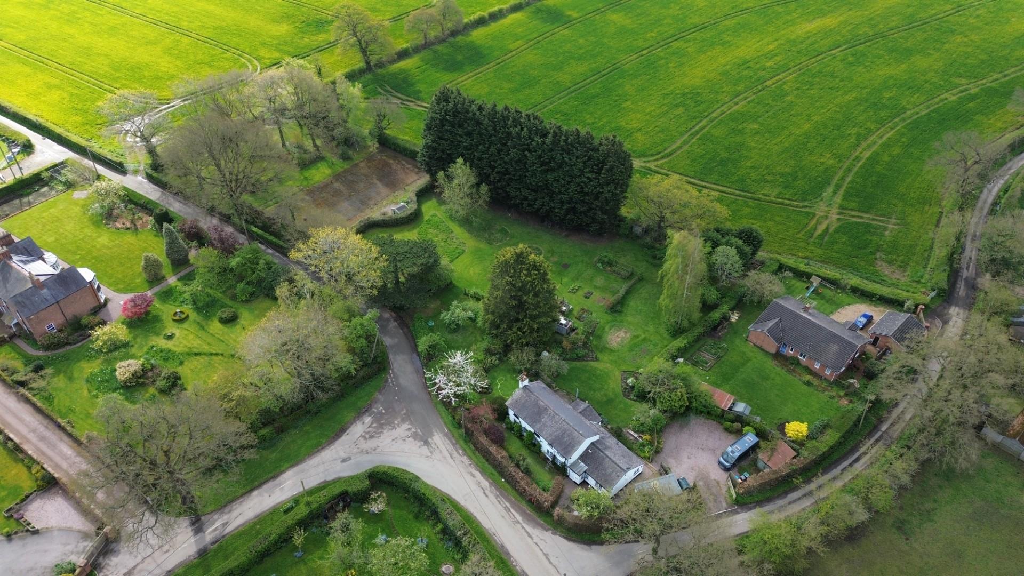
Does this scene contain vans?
Yes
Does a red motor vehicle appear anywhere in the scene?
No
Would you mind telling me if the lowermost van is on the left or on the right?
right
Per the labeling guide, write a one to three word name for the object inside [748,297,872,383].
house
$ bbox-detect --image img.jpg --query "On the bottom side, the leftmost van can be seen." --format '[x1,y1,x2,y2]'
[718,426,765,466]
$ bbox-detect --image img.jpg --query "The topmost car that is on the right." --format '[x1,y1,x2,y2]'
[854,307,876,327]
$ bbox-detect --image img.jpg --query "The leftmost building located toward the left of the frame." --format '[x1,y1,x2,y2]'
[0,235,109,344]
